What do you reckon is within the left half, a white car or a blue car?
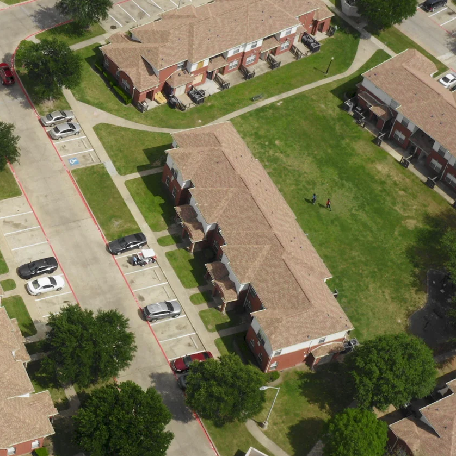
white car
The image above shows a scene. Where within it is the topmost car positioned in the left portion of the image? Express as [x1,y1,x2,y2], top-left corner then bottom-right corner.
[0,62,16,86]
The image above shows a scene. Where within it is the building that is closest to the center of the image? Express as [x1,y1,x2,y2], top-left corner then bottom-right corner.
[164,120,354,371]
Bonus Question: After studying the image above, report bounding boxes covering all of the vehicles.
[143,300,182,321]
[27,275,65,297]
[439,72,456,86]
[108,234,148,256]
[17,258,58,281]
[0,62,16,86]
[418,0,451,12]
[137,247,158,265]
[41,108,75,126]
[48,121,83,140]
[171,350,212,373]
